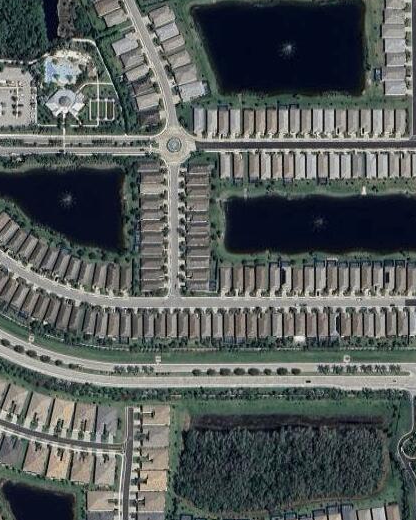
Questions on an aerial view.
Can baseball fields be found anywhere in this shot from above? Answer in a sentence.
No, I find no baseball field anywhere in the image.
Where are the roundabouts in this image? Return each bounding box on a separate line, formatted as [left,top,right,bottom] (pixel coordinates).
[152,124,196,168]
